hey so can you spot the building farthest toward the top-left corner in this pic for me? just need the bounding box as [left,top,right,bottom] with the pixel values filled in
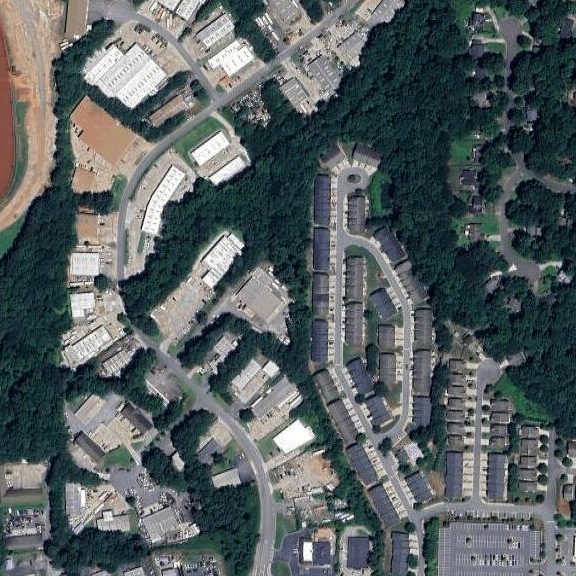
[64,0,90,36]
